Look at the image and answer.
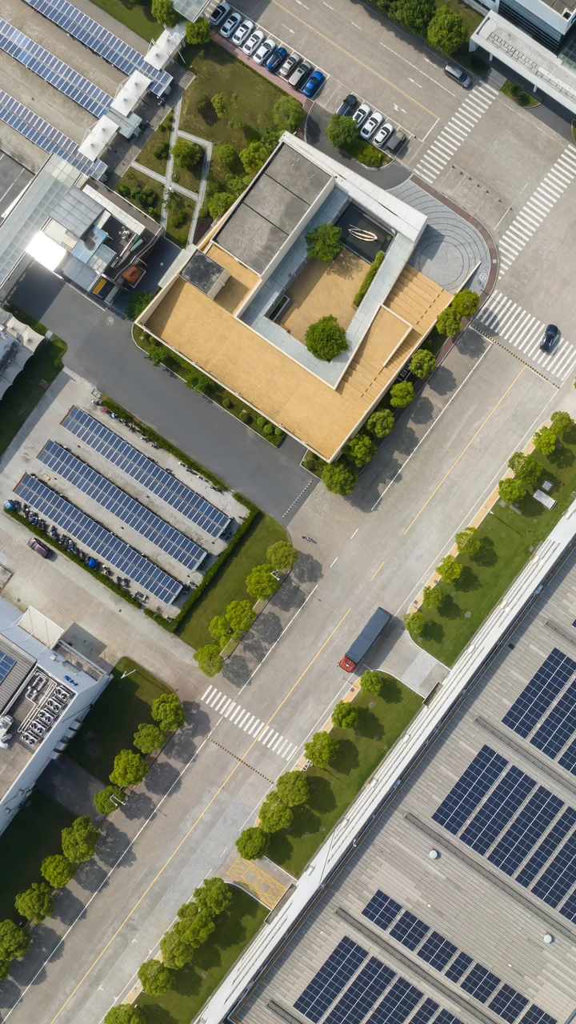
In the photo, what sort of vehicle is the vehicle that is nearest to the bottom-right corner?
truck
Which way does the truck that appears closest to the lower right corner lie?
diagonally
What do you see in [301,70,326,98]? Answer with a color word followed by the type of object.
blue car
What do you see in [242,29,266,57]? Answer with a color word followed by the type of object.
white car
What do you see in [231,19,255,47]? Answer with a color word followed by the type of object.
white car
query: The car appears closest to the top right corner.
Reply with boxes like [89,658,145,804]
[443,64,471,88]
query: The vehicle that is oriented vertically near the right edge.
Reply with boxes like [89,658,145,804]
[541,323,557,353]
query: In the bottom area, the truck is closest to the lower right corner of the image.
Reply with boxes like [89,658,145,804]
[338,604,394,671]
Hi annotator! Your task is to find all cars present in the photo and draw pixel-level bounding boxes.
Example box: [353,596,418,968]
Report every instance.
[301,70,326,98]
[242,29,266,57]
[361,113,384,141]
[252,38,276,66]
[208,0,232,28]
[334,92,359,120]
[26,538,51,560]
[231,19,255,47]
[288,60,313,90]
[371,122,395,149]
[279,53,300,78]
[443,64,471,88]
[219,11,243,39]
[541,323,557,353]
[351,103,373,130]
[264,45,288,74]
